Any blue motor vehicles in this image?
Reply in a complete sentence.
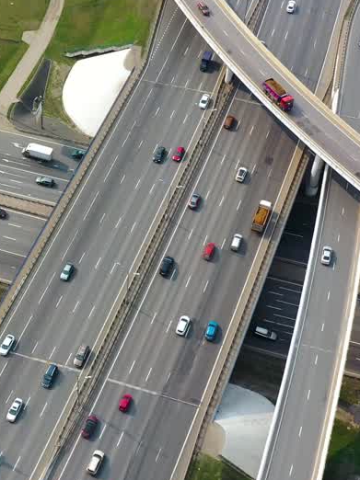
Yes, the picture does show a blue motor vehicle.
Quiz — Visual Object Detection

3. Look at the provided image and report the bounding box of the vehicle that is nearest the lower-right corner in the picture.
[253,326,276,342]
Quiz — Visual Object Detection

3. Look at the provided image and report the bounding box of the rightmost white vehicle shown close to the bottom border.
[86,451,105,477]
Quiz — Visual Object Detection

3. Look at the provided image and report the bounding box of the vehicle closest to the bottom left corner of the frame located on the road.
[7,399,24,422]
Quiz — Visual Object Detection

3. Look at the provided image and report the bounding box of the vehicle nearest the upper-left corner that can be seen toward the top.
[23,142,52,159]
